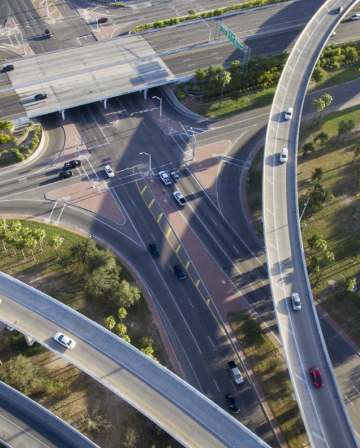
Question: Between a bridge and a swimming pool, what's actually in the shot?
bridge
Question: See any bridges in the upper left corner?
Yes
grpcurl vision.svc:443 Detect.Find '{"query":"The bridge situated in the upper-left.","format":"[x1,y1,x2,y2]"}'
[8,34,179,120]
